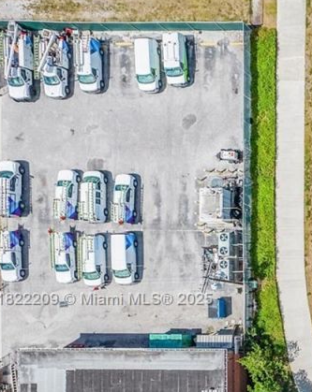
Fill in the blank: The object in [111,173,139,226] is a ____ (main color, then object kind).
white van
